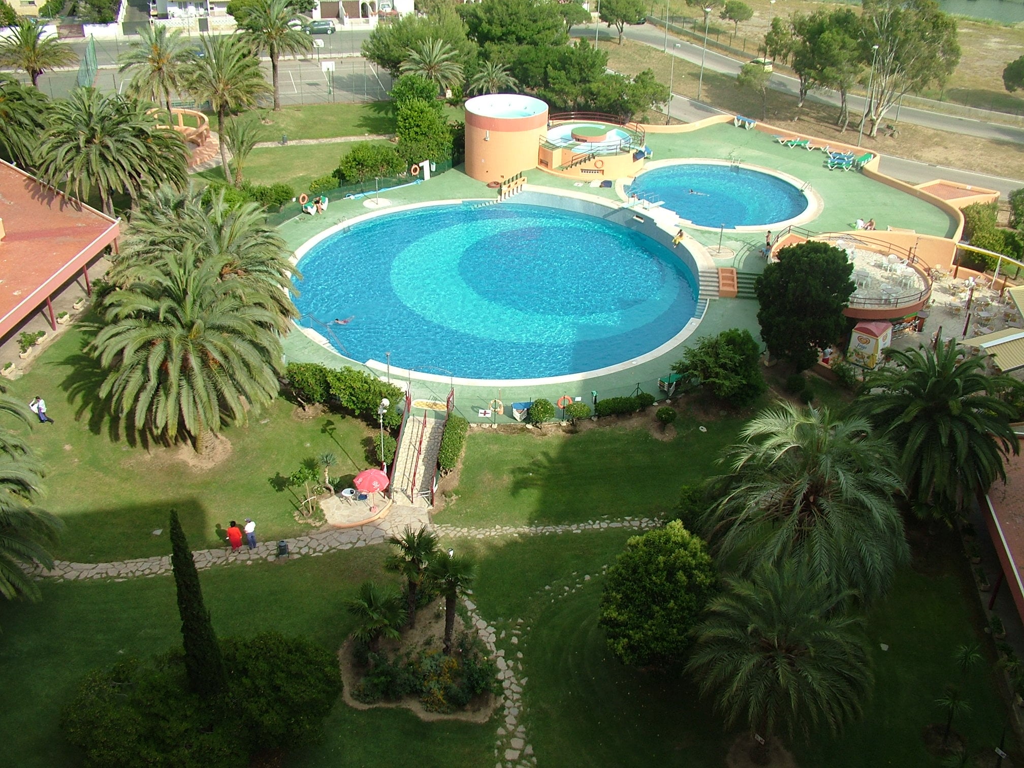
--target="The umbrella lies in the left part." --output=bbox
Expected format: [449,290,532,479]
[349,464,394,512]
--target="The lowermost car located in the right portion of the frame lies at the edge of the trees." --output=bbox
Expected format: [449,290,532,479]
[744,56,781,74]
